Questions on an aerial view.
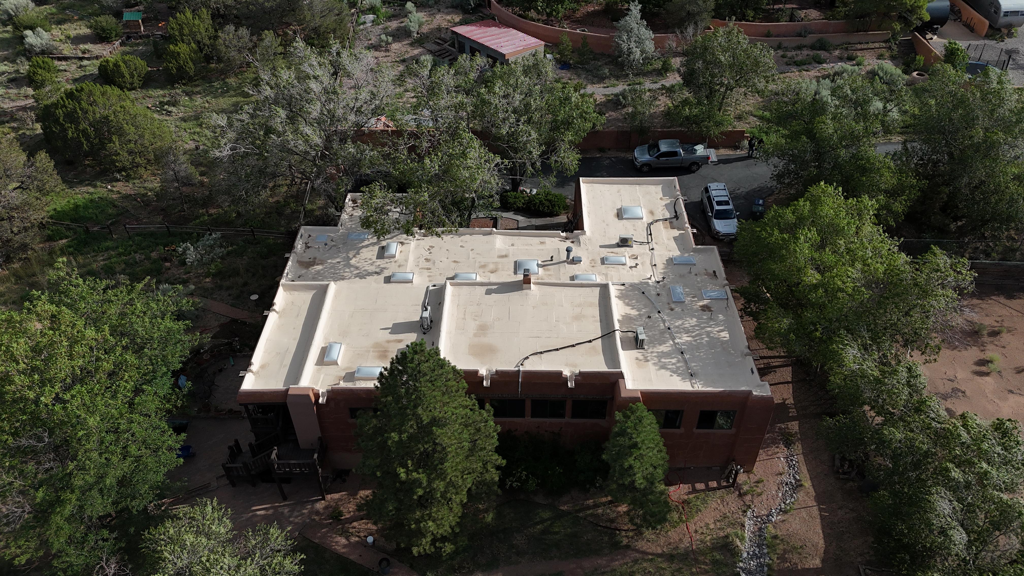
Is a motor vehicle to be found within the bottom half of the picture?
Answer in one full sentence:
No, no motor vehicle is visible within the bottom half of the picture.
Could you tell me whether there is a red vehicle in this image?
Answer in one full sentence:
No, there is no red vehicle in the image.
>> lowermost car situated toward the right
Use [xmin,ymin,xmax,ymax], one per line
[698,183,740,240]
